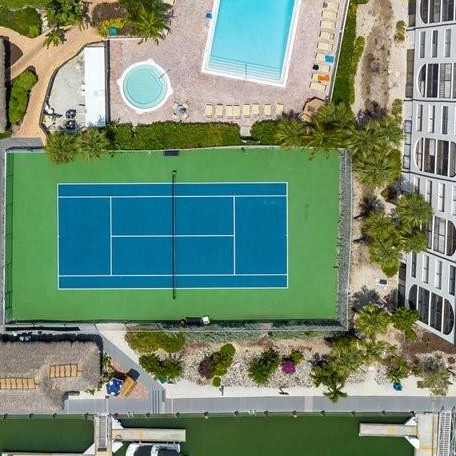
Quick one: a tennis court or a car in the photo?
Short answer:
tennis court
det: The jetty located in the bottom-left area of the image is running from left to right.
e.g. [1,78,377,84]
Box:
[3,419,185,456]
